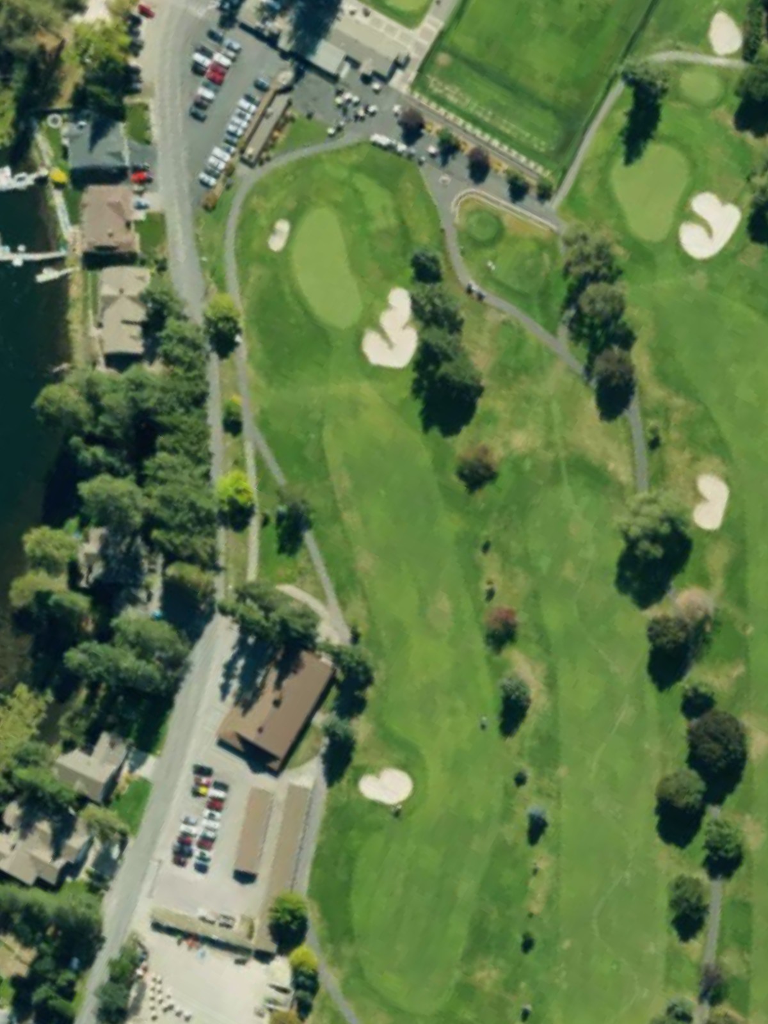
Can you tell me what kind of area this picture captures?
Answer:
golf course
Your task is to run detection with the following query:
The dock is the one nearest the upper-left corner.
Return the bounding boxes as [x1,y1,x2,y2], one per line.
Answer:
[0,165,51,195]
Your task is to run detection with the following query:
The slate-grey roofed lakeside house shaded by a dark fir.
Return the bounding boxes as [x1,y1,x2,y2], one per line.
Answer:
[66,120,130,168]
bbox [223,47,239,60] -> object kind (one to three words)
vehicle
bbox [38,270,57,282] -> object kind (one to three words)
boat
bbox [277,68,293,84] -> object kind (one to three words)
gazebo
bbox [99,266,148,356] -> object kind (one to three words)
house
